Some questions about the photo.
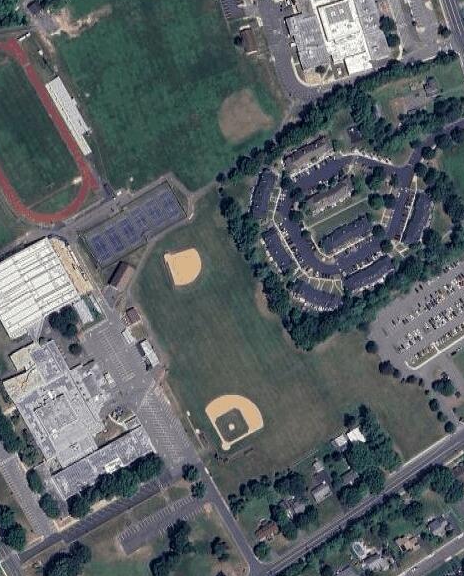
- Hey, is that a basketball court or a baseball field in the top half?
baseball field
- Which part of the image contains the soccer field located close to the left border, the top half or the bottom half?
top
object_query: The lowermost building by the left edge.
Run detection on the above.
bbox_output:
[4,341,155,499]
